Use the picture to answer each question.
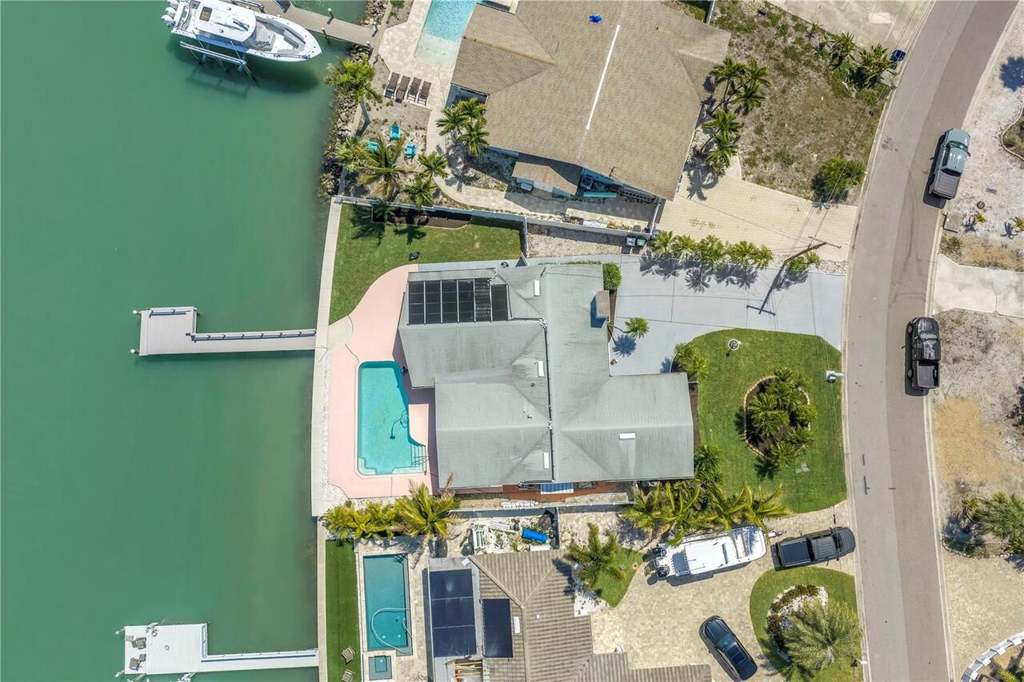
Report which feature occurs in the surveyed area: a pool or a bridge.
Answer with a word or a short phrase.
pool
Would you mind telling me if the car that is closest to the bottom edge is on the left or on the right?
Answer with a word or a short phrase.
right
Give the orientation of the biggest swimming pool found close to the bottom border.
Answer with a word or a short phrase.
up and down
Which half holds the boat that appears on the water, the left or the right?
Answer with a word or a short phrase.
left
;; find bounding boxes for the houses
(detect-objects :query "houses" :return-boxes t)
[427,549,714,682]
[448,0,730,201]
[399,265,693,495]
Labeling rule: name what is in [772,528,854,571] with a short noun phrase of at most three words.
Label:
truck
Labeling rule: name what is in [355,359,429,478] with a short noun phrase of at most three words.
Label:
swimming pool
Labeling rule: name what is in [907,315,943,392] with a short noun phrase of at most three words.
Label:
truck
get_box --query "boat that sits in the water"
[163,0,325,60]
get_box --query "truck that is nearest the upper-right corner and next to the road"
[926,126,969,203]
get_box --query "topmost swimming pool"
[411,0,477,68]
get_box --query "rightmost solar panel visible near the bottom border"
[484,599,513,659]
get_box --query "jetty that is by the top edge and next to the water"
[227,0,381,51]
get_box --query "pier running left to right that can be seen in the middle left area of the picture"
[129,307,317,357]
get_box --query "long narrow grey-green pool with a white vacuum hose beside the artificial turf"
[363,552,414,656]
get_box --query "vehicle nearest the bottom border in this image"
[703,613,757,682]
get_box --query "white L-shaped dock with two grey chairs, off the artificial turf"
[112,618,319,678]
